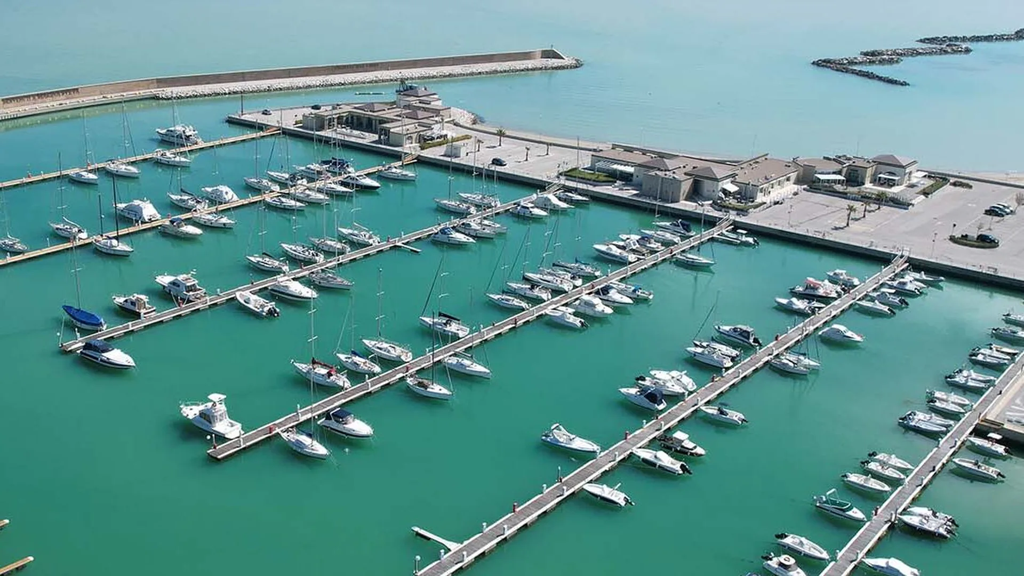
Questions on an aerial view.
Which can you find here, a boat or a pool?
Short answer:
boat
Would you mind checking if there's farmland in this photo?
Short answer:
No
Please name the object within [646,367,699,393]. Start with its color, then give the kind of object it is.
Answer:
white boat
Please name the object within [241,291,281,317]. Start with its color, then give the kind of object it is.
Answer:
white boat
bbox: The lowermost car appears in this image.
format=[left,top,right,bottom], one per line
[976,231,1003,243]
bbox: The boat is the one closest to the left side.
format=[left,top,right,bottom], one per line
[0,180,32,253]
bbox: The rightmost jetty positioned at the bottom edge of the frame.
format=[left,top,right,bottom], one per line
[807,352,1024,576]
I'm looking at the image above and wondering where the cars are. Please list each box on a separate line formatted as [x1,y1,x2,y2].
[984,206,1010,218]
[307,102,324,110]
[258,106,274,114]
[976,231,1003,243]
[489,154,509,164]
[993,201,1017,214]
